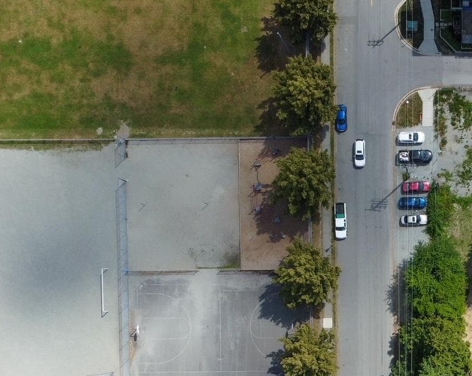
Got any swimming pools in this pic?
No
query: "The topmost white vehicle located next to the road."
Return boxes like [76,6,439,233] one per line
[397,130,426,144]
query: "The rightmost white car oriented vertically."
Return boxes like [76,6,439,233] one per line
[353,140,366,168]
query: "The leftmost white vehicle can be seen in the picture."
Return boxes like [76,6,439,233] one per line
[334,203,347,239]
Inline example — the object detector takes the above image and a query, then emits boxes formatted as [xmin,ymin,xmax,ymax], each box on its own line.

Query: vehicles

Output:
[353,140,366,168]
[397,149,431,164]
[399,214,427,226]
[400,180,430,193]
[334,203,347,239]
[335,105,347,132]
[397,130,426,144]
[399,197,427,209]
